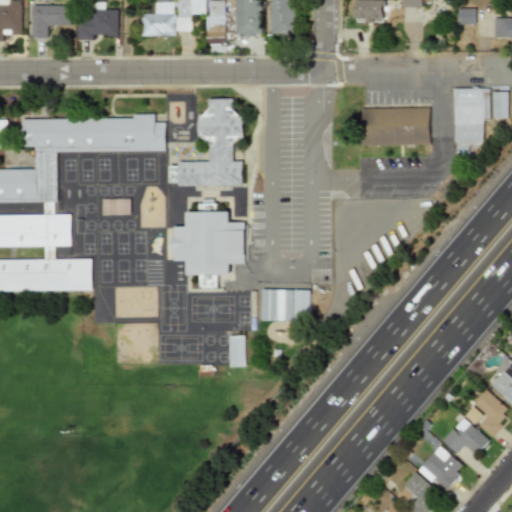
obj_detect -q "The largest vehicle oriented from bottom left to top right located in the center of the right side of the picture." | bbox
[409,281,434,310]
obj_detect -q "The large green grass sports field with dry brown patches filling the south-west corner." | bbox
[0,290,257,512]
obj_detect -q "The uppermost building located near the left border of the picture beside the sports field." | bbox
[0,114,166,202]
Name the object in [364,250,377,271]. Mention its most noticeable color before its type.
white vehicle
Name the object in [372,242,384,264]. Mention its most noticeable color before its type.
white vehicle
